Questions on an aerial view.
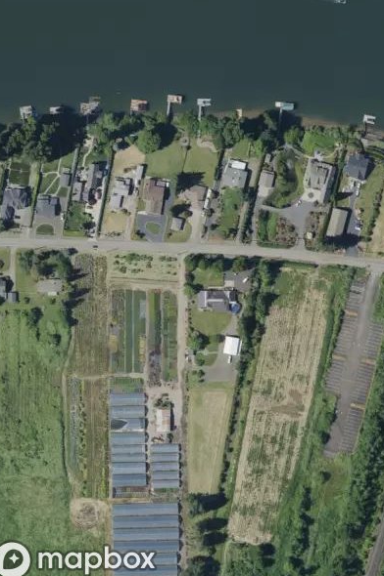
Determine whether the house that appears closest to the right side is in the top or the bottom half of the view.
top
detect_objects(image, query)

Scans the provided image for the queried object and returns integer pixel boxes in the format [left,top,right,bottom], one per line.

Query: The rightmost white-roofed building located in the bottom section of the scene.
[224,337,243,355]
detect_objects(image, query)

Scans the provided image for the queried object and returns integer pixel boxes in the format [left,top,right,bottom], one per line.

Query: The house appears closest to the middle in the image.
[197,291,236,310]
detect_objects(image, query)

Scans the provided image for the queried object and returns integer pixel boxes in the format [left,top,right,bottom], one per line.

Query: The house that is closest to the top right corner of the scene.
[344,155,368,180]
